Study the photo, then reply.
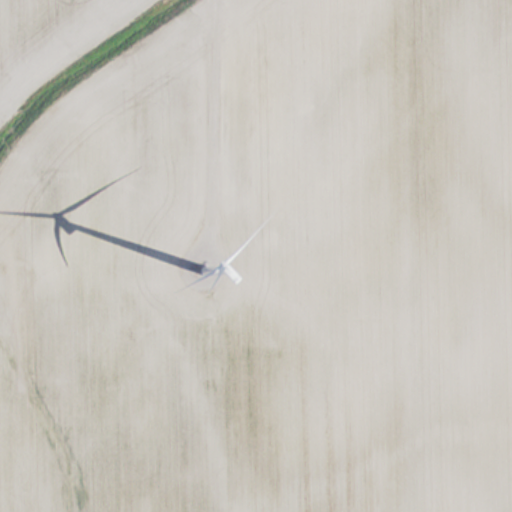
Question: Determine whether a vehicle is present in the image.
No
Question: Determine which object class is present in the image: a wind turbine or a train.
wind turbine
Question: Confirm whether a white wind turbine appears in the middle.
Yes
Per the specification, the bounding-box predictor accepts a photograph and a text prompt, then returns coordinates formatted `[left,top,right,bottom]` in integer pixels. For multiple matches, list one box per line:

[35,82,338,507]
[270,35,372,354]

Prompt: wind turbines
[174,214,273,298]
